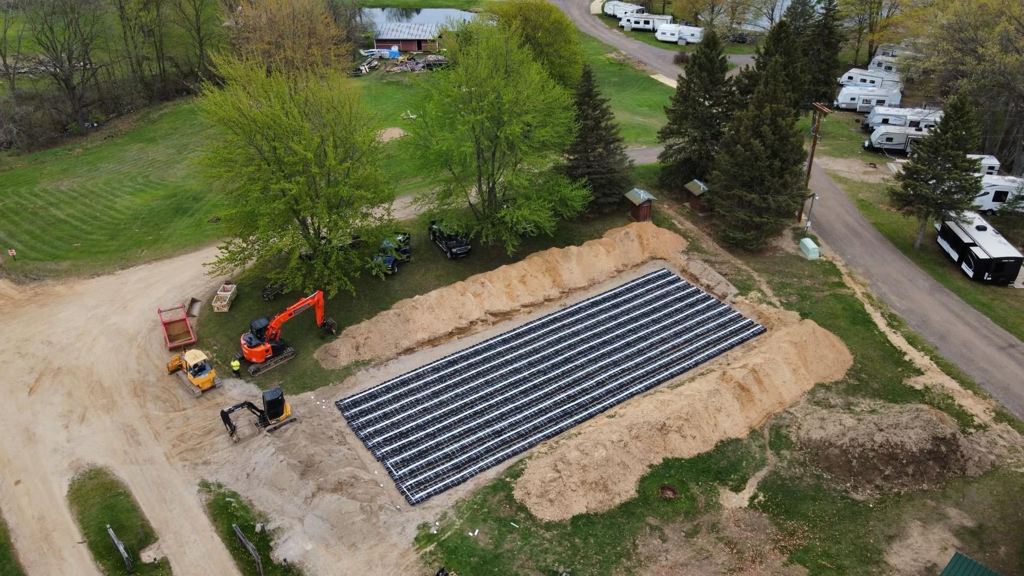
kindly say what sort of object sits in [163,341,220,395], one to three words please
work vehicle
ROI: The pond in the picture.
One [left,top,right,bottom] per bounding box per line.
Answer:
[361,9,495,48]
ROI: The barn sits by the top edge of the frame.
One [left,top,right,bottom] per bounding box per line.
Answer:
[372,21,444,53]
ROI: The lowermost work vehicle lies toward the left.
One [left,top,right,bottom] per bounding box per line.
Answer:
[217,389,299,441]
